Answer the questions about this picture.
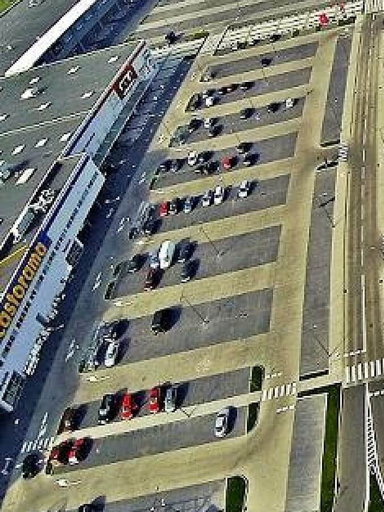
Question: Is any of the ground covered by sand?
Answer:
No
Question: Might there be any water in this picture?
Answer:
No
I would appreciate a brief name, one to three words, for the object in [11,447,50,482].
car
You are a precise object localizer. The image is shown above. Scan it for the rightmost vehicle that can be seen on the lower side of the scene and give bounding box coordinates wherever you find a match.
[212,409,231,441]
